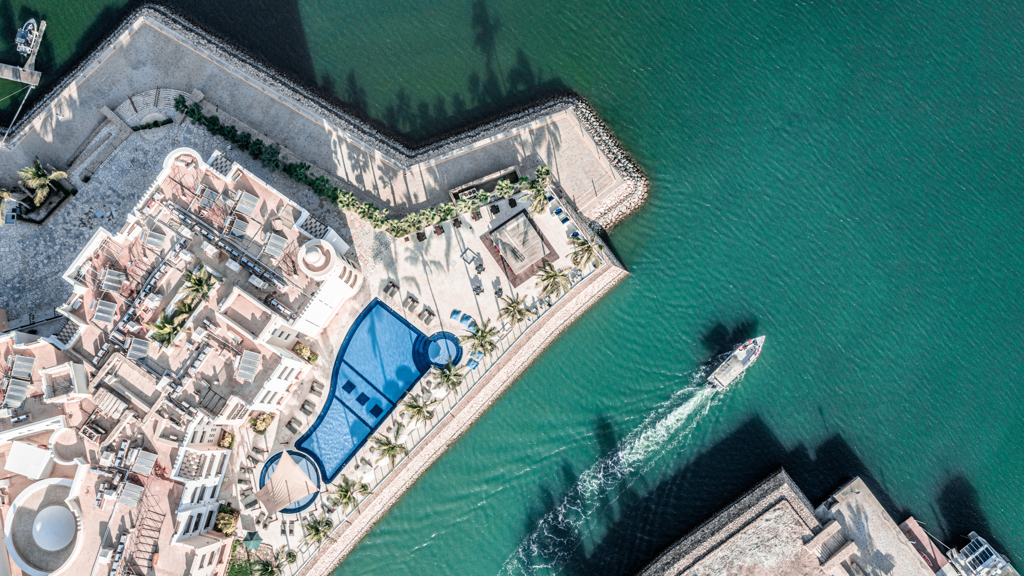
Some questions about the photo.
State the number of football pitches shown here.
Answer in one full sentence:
The count of football pitches is 0.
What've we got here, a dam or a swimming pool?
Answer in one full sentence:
Of the two, only a swimming pool appears.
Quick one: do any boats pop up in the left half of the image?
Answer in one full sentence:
Yes, a boat can be seen in the left half of the image.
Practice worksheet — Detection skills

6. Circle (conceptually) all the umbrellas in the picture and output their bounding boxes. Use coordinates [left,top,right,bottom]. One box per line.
[429,380,450,400]
[368,444,388,464]
[390,424,409,443]
[356,464,375,484]
[404,412,424,432]
[242,531,263,551]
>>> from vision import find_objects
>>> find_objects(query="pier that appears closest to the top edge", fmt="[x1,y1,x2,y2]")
[0,20,48,90]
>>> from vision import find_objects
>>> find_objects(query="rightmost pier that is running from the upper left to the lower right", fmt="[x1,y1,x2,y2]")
[896,515,947,573]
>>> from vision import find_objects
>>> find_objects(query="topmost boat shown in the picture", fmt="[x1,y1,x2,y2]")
[15,20,35,55]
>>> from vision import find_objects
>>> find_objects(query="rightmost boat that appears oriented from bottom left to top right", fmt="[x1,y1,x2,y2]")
[706,335,766,391]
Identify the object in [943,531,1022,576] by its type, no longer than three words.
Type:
boat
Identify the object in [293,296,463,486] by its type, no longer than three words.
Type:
swimming pool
